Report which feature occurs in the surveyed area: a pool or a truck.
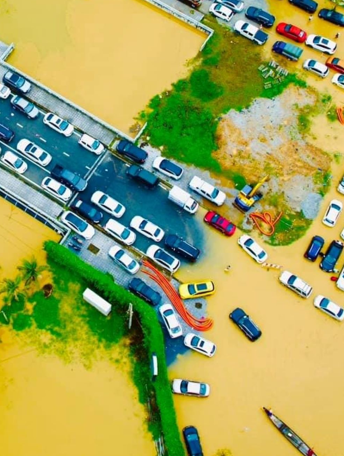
truck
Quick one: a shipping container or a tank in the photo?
shipping container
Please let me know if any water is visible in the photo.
Yes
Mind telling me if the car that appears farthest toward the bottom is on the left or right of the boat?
on its left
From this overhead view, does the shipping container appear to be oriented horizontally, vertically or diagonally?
diagonally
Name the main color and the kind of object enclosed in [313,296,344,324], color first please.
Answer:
white car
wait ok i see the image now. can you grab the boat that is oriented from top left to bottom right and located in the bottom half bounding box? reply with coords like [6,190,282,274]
[263,407,317,456]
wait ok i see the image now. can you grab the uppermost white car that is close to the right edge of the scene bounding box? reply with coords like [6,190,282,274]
[305,36,338,56]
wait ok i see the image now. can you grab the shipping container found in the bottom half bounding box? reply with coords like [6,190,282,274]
[84,288,111,317]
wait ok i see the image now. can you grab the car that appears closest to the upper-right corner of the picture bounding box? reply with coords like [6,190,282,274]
[318,10,344,29]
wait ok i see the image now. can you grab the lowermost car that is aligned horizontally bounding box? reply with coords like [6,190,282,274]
[173,378,210,399]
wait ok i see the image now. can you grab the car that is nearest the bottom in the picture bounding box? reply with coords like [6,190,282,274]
[182,427,203,456]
